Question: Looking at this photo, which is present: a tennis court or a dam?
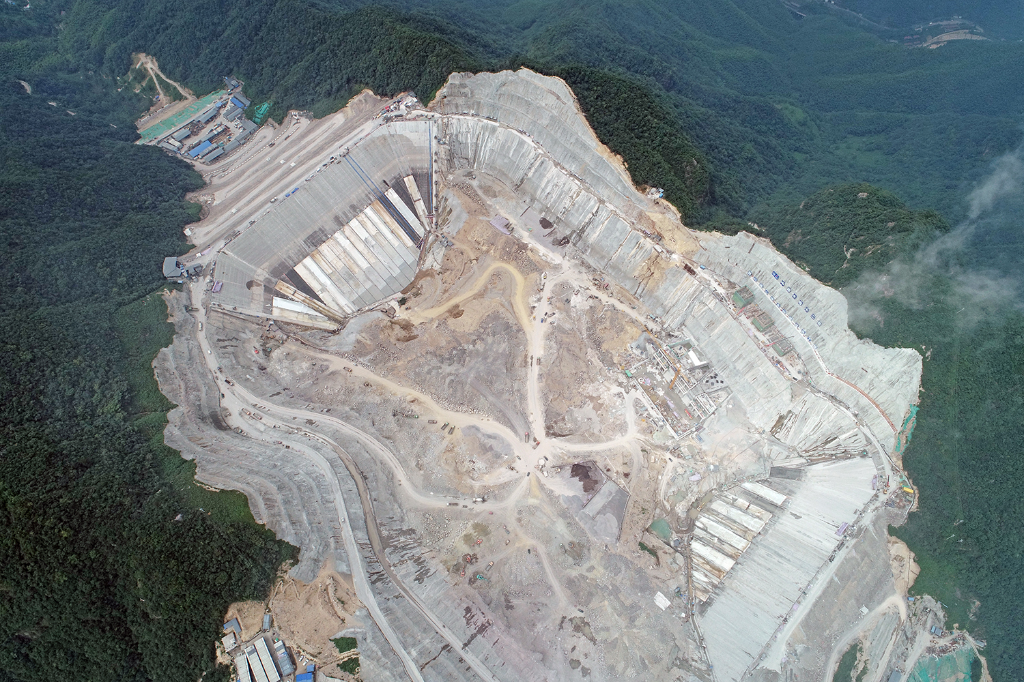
dam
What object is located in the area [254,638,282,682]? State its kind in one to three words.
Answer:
shed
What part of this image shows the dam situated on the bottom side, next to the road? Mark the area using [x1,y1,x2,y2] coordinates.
[689,455,918,682]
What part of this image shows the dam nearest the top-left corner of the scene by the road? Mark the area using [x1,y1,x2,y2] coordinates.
[180,88,438,332]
